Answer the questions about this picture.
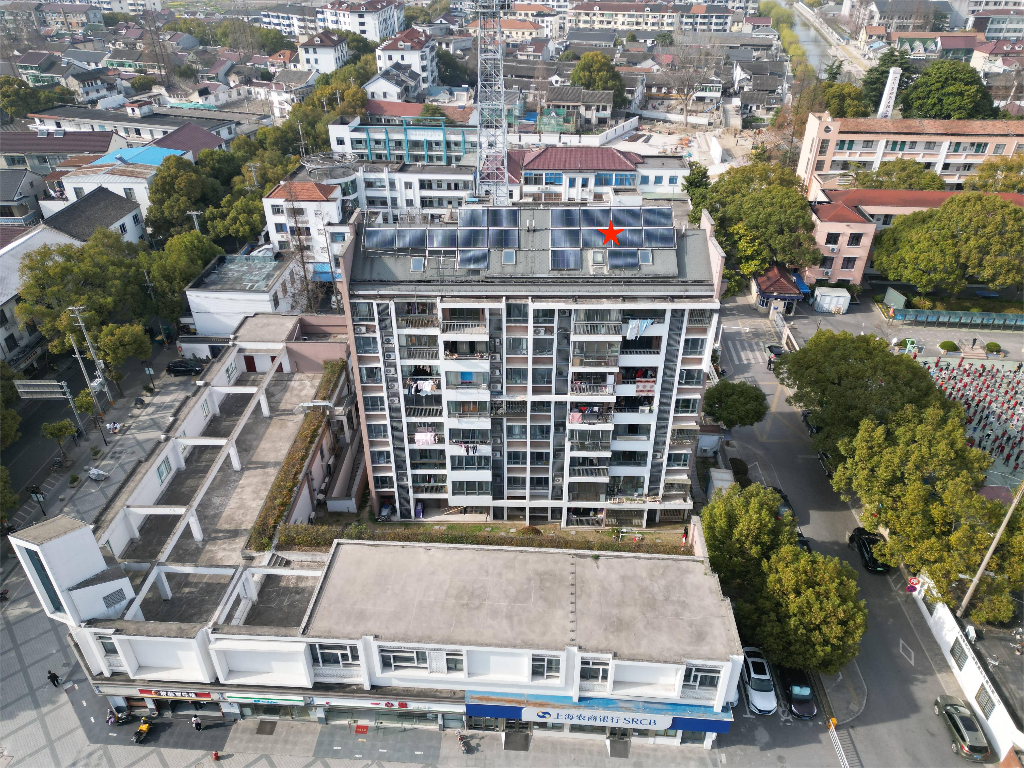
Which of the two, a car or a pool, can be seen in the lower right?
car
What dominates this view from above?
buildings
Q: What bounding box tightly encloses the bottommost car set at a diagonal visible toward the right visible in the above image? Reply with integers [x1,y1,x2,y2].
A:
[928,691,1000,760]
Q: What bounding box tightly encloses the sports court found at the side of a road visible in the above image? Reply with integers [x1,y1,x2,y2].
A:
[777,350,1024,498]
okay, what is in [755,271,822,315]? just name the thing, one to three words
building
